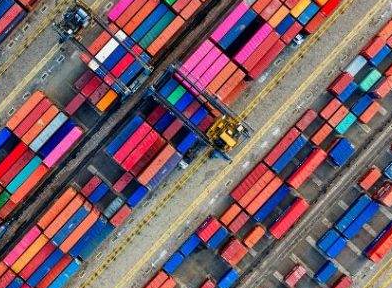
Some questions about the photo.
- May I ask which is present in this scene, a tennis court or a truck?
truck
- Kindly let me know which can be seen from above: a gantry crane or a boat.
gantry crane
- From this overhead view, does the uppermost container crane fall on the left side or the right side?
left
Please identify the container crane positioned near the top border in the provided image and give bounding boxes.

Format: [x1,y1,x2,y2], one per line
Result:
[54,0,154,93]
